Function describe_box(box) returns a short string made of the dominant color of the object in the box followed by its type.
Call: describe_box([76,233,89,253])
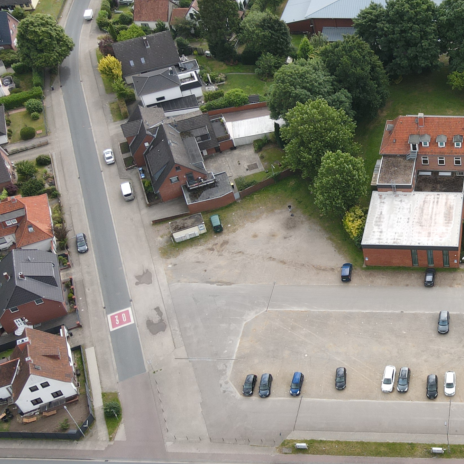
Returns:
gray vehicle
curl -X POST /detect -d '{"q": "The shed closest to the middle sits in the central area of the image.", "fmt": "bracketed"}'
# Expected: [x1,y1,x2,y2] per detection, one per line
[172,213,210,240]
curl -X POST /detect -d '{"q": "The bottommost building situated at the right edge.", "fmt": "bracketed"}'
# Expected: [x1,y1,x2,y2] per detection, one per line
[362,114,464,269]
